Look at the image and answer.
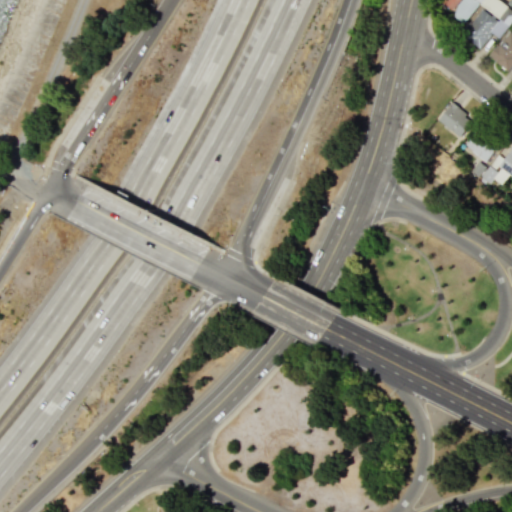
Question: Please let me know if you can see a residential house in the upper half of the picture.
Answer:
Yes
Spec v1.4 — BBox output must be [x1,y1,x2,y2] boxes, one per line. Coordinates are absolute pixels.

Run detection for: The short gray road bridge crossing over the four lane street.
[254,280,342,346]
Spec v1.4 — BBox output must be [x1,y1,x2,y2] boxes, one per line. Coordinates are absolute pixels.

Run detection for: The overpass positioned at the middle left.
[66,175,212,280]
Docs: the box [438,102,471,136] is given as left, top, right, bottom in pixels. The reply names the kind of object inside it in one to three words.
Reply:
house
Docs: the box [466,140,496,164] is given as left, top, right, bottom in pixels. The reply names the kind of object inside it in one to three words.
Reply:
house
